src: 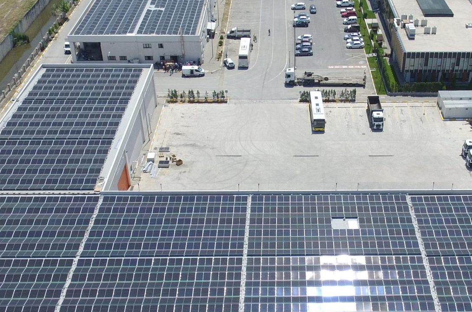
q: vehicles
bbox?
[367,98,386,128]
[343,23,361,31]
[294,16,311,23]
[339,6,355,12]
[224,59,235,69]
[297,33,313,40]
[296,38,313,44]
[178,63,206,76]
[346,36,364,43]
[284,71,366,90]
[294,48,313,56]
[309,5,316,13]
[59,37,71,54]
[346,41,365,49]
[295,42,313,50]
[228,26,250,38]
[336,0,354,6]
[308,89,324,126]
[293,21,309,27]
[341,15,359,24]
[341,10,356,17]
[239,39,252,65]
[291,1,307,9]
[294,12,310,18]
[343,31,362,38]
